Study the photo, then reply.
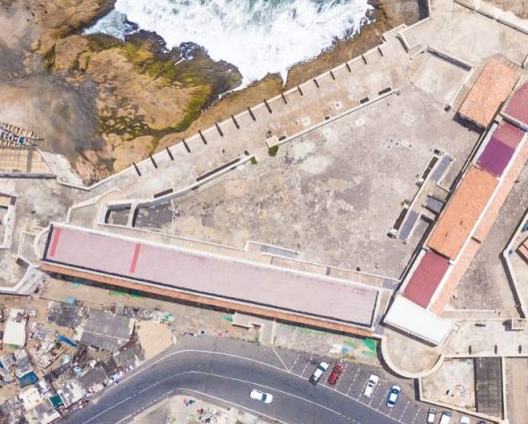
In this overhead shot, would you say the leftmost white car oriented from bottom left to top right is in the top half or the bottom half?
bottom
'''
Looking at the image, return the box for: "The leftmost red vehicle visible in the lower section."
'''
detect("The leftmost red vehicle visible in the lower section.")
[327,363,343,386]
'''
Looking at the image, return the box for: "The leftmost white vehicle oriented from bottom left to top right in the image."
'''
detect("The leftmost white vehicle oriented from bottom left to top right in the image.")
[309,360,329,386]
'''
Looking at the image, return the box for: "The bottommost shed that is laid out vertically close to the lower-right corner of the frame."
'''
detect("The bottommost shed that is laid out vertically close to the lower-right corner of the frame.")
[476,357,501,416]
